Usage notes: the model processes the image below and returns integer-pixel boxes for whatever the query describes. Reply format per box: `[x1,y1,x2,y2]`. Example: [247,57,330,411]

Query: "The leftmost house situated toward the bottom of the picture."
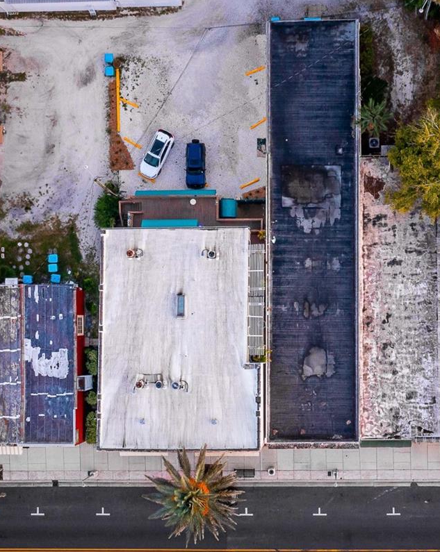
[0,284,88,447]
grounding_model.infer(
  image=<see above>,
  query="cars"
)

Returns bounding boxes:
[138,124,175,181]
[181,138,205,188]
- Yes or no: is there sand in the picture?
No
